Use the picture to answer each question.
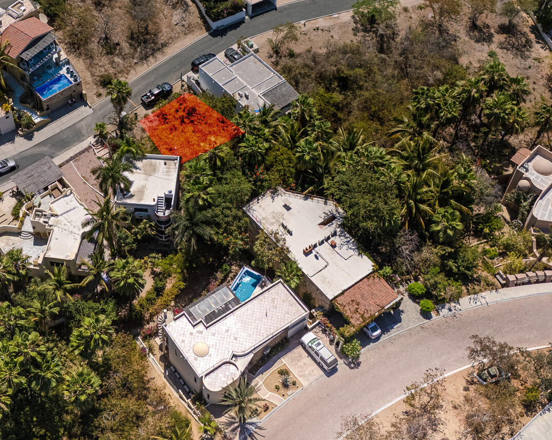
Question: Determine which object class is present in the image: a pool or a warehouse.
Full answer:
The one in the frame is a pool.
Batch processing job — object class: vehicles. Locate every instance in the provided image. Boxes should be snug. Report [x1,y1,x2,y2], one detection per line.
[299,330,340,373]
[362,316,387,345]
[189,53,216,70]
[0,157,19,174]
[140,84,175,103]
[222,46,245,63]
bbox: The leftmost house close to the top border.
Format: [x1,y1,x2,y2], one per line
[0,0,92,140]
